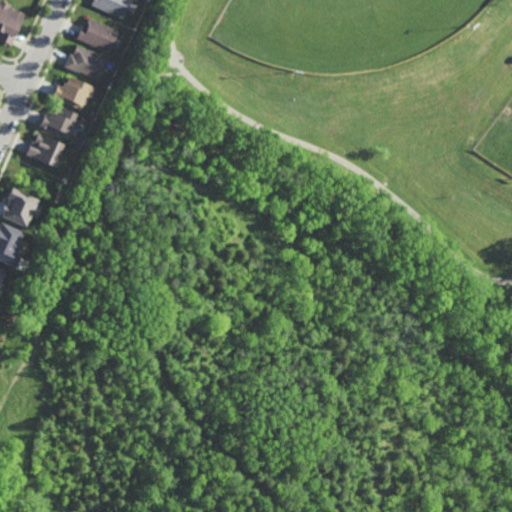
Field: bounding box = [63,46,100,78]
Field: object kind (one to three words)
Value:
house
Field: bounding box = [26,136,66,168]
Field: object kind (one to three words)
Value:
house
